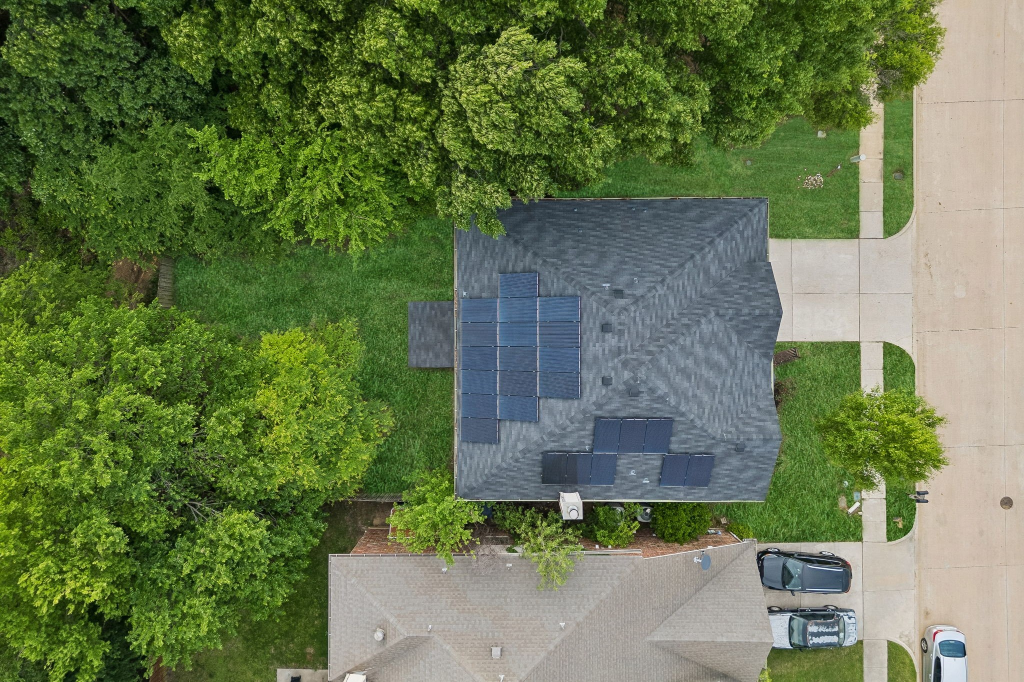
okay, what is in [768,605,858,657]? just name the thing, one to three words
car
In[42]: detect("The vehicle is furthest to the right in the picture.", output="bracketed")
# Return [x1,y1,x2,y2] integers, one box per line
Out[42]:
[920,624,972,682]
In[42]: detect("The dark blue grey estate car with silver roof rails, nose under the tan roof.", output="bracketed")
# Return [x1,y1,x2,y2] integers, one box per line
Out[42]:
[759,545,859,598]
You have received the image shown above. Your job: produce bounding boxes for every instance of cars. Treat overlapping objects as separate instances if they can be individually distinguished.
[759,545,859,598]
[920,624,972,682]
[768,605,858,657]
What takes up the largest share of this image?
trees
